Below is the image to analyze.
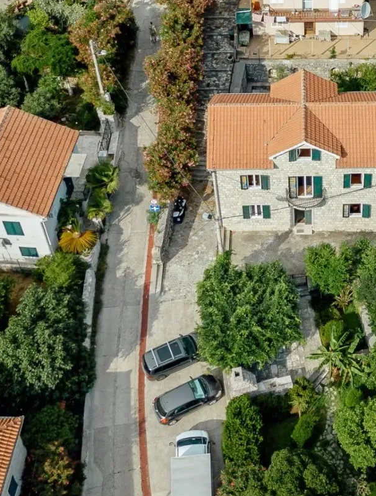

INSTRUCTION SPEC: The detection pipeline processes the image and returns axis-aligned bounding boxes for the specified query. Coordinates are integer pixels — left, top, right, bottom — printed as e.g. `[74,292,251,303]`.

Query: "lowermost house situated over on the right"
[212,61,376,250]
